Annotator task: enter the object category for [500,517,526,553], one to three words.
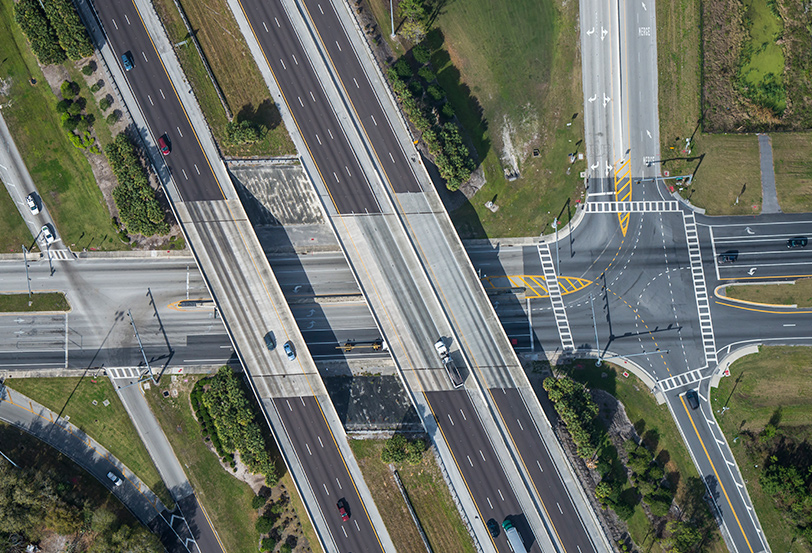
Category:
truck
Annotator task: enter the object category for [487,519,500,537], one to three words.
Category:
vehicle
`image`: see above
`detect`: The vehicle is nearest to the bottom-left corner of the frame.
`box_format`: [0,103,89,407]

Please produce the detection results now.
[106,470,123,487]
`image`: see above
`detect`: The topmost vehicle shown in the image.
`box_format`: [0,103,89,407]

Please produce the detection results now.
[121,54,133,71]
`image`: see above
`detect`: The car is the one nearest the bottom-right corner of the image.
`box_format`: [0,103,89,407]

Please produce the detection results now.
[686,390,699,409]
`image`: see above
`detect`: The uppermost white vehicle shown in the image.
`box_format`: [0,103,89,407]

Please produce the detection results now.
[25,195,40,216]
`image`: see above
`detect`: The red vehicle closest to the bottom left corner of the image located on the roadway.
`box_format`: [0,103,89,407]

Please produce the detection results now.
[335,501,350,523]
